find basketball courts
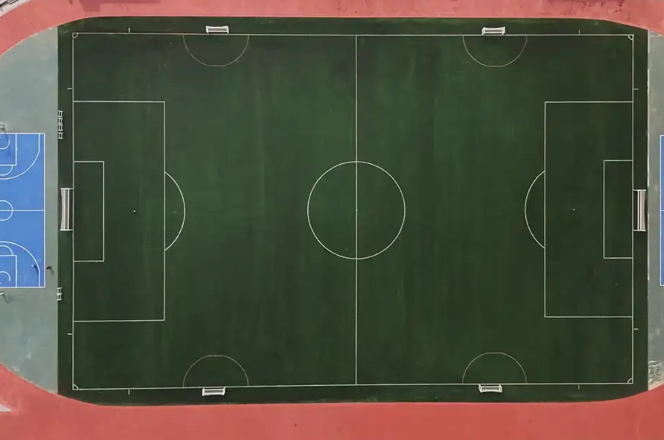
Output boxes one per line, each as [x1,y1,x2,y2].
[0,28,58,392]
[647,30,664,390]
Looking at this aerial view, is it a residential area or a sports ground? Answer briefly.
sports ground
